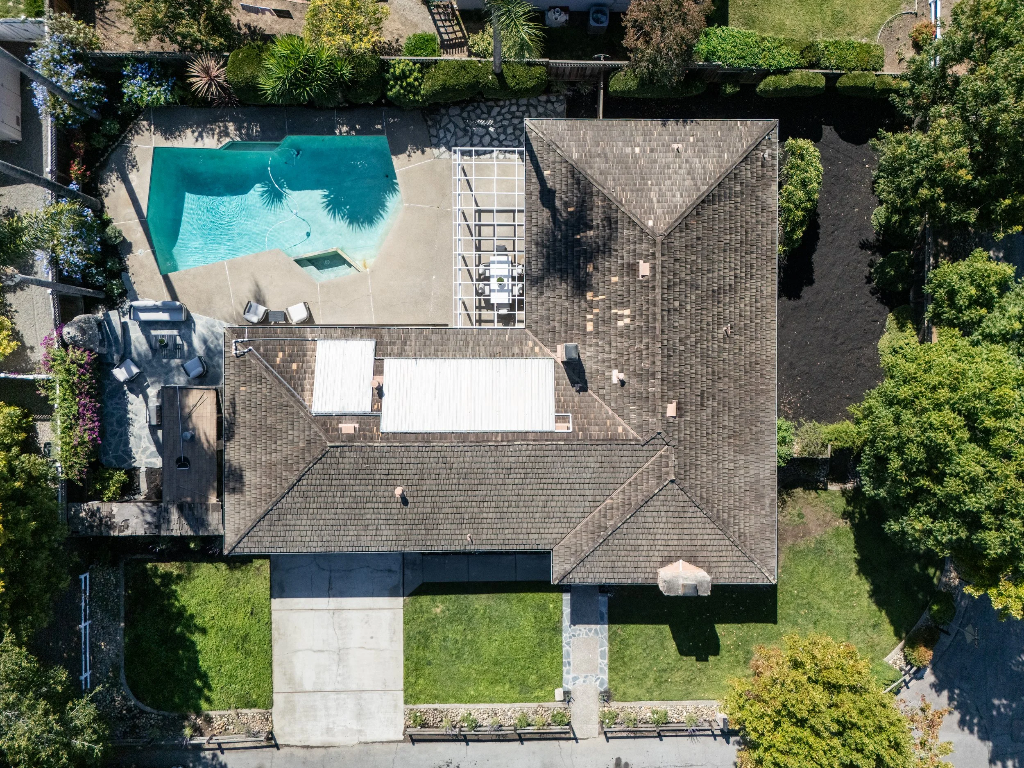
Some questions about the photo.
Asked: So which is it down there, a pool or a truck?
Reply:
pool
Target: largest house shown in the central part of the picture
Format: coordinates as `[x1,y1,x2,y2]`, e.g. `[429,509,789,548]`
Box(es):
[220,115,781,596]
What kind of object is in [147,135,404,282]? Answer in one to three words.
swimming pool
